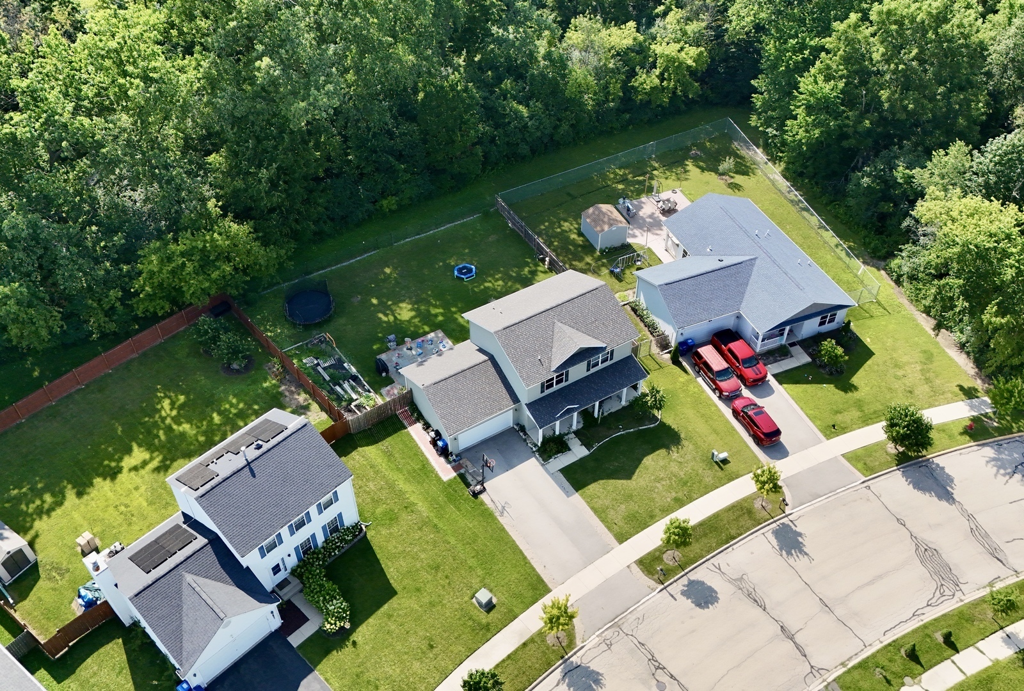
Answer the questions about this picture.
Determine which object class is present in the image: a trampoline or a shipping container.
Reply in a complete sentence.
The one in the frame is a trampoline.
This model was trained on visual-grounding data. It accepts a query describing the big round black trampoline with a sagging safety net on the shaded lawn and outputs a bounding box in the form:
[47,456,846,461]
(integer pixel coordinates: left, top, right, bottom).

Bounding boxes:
[283,270,334,323]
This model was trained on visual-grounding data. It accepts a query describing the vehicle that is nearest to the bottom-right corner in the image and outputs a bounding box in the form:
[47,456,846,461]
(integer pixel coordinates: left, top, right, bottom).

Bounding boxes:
[731,394,782,442]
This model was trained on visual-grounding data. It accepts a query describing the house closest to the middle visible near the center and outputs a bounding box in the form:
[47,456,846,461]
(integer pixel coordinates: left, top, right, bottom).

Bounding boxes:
[399,269,649,454]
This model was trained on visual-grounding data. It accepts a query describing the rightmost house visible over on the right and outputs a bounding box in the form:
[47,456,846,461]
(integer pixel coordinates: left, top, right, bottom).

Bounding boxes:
[633,193,858,354]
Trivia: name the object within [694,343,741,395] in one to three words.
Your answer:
car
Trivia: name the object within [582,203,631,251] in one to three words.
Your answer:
shed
